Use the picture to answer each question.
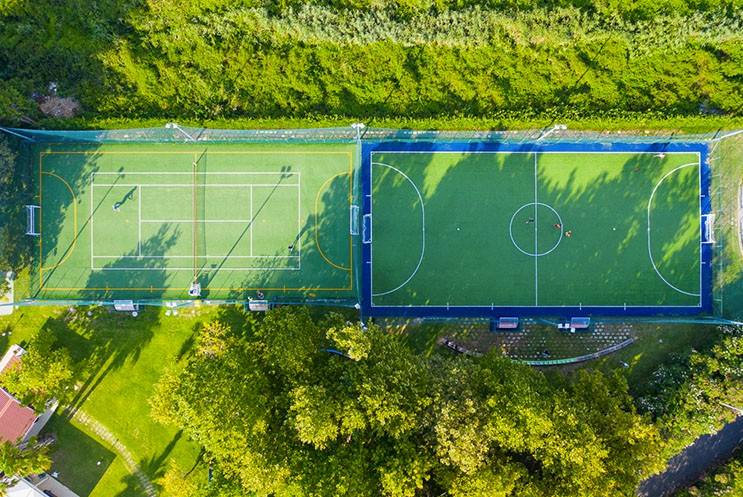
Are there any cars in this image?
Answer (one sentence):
No, no car is visible in the scene.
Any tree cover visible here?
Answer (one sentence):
Yes, there's tree cover in this view.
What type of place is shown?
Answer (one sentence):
This looks like a sports ground.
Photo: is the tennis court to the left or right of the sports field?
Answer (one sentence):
In the image, the tennis court sits on the left side of the sports field.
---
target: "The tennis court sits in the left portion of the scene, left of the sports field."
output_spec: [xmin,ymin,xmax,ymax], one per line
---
[36,141,359,300]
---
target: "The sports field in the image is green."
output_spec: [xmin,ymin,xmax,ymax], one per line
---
[361,141,712,317]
